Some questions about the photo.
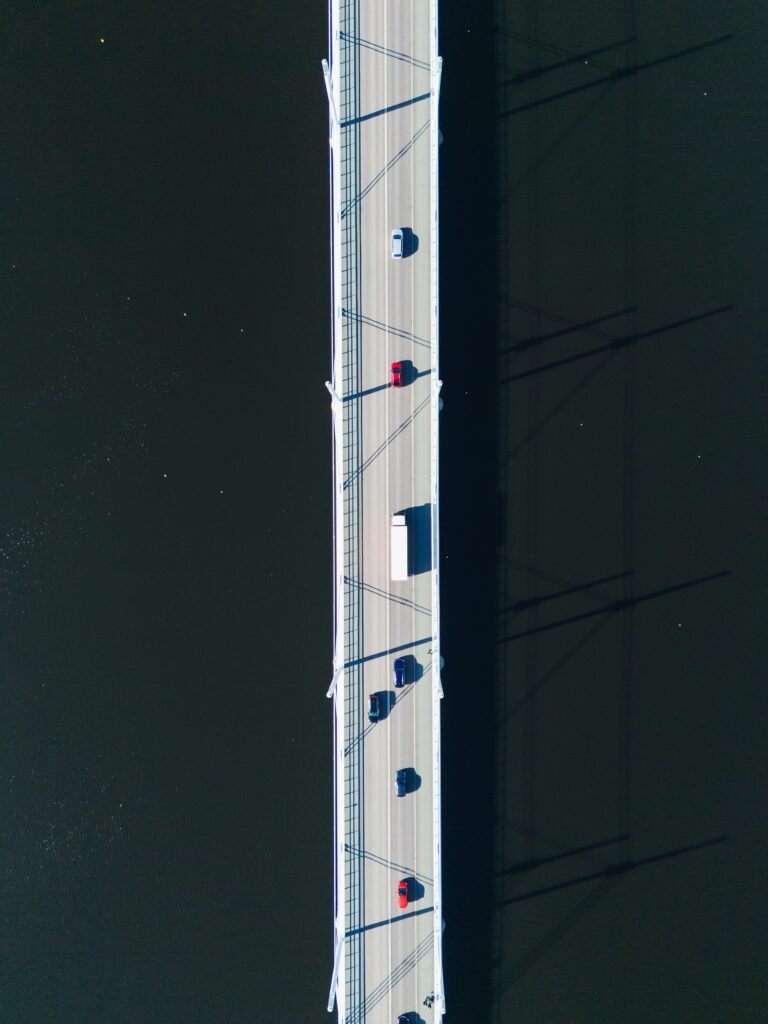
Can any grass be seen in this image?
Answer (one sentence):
No, the picture contains no grass.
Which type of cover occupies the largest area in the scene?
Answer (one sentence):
The scene is dominated by water.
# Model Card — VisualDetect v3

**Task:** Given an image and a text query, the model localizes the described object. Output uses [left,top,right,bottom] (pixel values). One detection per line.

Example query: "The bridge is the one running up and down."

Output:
[323,0,445,1024]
